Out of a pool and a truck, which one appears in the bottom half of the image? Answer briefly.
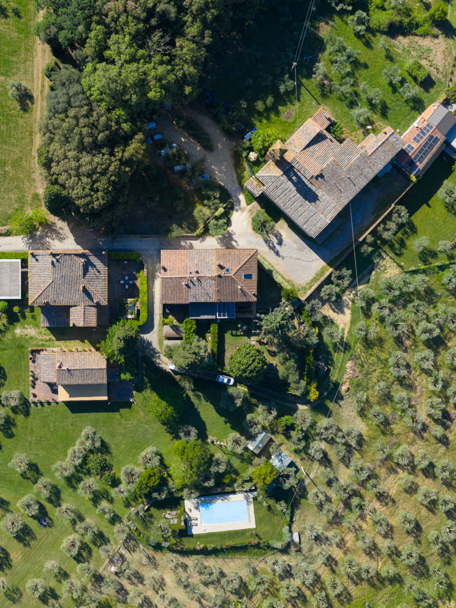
pool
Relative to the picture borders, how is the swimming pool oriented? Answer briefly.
horizontally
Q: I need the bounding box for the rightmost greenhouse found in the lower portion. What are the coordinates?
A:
[269,450,299,475]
